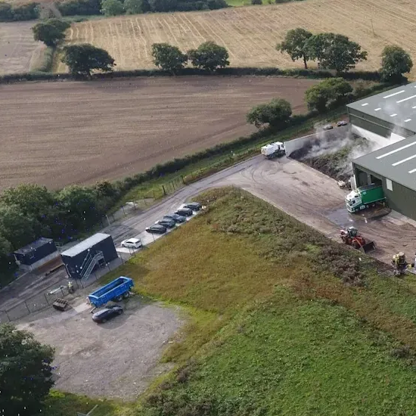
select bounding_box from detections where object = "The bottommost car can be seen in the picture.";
[92,303,125,321]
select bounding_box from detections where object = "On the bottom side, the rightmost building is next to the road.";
[58,233,117,278]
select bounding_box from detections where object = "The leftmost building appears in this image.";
[11,238,65,271]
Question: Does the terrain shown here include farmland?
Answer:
Yes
